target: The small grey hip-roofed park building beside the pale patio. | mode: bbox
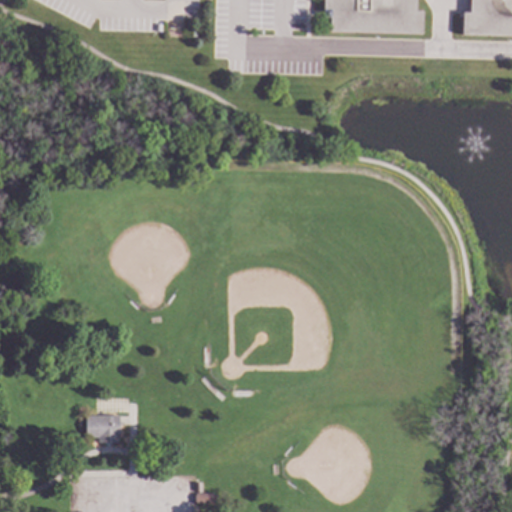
[86,415,119,444]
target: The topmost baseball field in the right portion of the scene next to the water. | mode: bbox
[214,164,460,415]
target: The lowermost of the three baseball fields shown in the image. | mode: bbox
[286,424,372,505]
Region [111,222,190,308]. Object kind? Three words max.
baseball field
